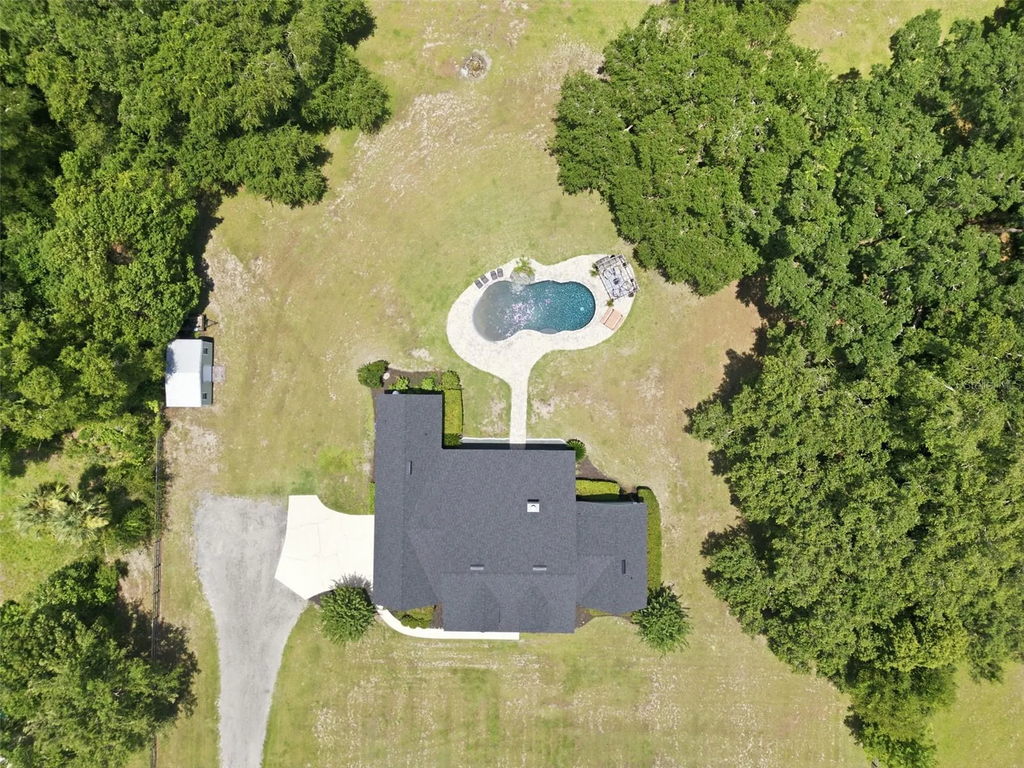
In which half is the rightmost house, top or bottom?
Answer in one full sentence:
The bottom half of the photo is where the rightmost house is.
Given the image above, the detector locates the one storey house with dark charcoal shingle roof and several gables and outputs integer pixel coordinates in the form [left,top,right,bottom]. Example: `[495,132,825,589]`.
[373,391,648,634]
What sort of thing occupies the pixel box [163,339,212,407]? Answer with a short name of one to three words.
shed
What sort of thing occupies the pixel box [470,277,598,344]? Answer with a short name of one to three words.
swimming pool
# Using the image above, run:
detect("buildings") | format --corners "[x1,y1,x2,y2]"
[373,391,648,634]
[163,339,212,407]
